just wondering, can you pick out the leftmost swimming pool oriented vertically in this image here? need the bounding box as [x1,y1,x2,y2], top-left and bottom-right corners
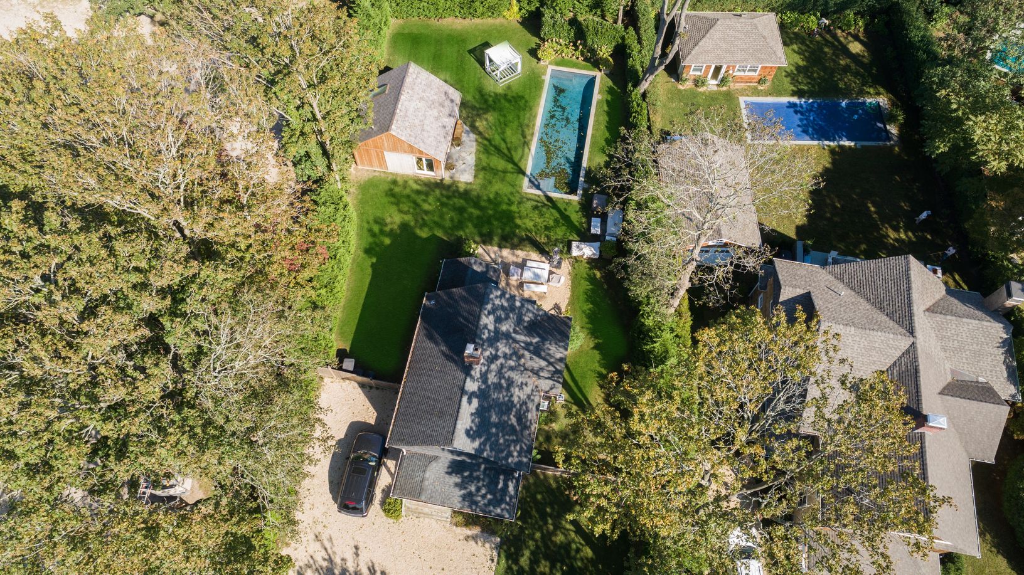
[523,65,601,199]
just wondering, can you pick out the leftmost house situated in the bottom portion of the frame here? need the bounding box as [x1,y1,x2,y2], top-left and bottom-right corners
[386,257,572,522]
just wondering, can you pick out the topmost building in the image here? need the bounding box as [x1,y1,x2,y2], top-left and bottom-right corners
[675,11,787,94]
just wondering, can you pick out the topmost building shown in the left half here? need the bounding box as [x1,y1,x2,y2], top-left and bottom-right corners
[353,61,463,178]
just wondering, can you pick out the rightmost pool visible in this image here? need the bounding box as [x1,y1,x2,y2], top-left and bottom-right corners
[988,37,1024,70]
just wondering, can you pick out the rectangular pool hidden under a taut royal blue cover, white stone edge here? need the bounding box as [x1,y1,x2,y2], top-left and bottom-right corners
[739,96,899,145]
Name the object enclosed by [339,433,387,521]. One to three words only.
car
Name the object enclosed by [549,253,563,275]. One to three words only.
umbrella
